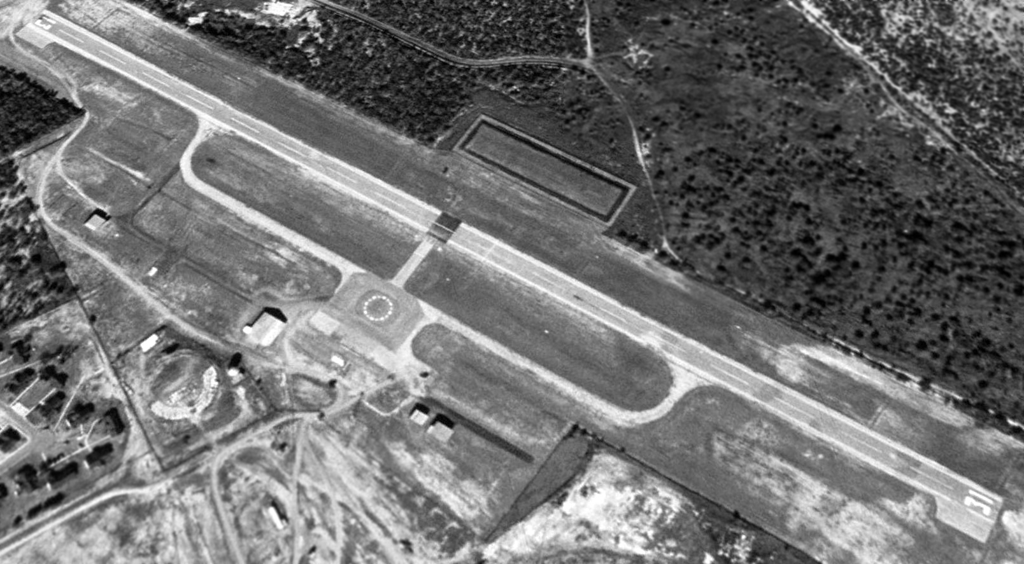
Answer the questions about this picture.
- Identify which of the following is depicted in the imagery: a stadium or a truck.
stadium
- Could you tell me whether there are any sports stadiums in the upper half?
No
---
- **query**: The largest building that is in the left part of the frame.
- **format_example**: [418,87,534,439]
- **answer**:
[248,312,286,349]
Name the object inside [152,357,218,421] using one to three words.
stadium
